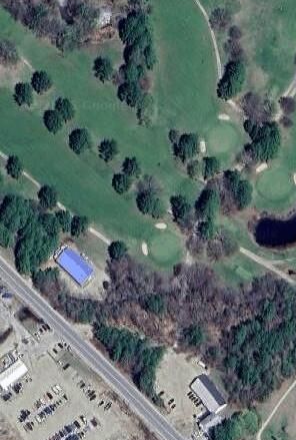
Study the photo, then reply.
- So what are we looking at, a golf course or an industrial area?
golf course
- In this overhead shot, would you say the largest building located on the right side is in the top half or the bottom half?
bottom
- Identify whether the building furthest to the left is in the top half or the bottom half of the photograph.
bottom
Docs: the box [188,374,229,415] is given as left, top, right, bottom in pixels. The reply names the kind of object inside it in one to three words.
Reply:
building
